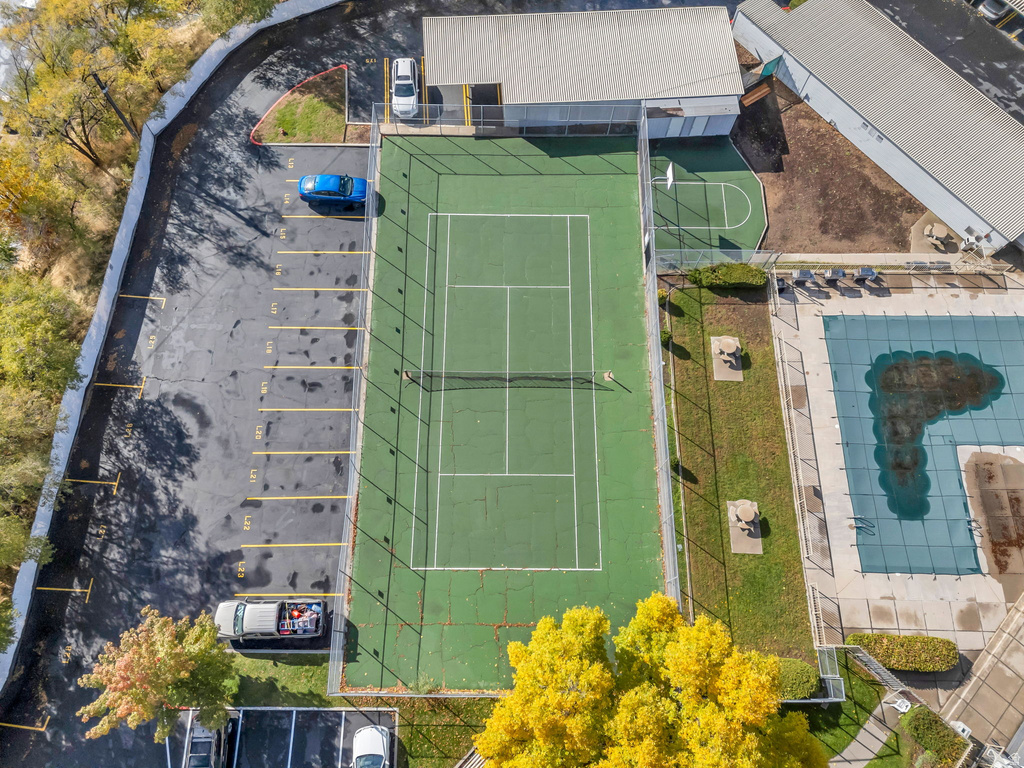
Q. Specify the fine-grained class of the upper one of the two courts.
basketball court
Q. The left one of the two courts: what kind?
tennis court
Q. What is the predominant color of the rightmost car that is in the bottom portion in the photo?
white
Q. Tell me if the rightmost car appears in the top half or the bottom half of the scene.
top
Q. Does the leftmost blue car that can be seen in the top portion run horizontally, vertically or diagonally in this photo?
horizontally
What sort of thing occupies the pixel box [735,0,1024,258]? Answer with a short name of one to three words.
building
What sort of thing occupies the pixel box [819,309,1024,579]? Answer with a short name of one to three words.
swimming pool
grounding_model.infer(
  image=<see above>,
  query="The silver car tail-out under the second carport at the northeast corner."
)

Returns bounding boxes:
[975,0,1011,22]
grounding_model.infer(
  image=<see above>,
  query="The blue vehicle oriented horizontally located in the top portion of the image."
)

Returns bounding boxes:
[296,172,367,205]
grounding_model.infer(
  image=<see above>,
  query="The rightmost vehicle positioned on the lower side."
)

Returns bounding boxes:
[347,726,389,768]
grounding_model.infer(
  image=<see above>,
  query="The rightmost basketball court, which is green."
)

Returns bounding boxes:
[638,135,766,272]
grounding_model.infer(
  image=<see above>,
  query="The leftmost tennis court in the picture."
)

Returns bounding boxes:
[340,136,667,690]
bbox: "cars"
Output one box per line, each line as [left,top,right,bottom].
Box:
[347,726,389,768]
[296,172,367,205]
[975,0,1011,22]
[390,57,420,118]
[177,714,229,768]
